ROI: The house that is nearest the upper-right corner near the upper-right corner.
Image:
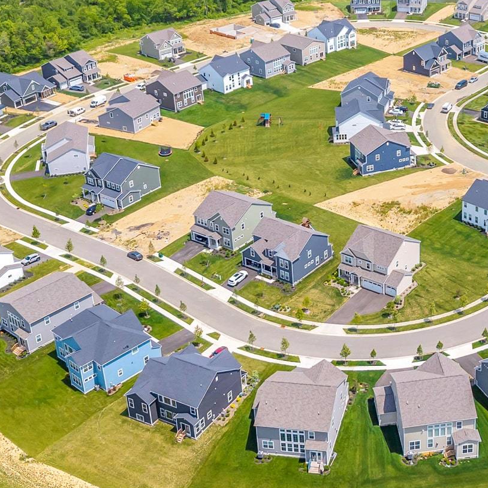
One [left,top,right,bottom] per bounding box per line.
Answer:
[453,0,488,20]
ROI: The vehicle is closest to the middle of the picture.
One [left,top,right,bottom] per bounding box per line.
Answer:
[229,266,246,282]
